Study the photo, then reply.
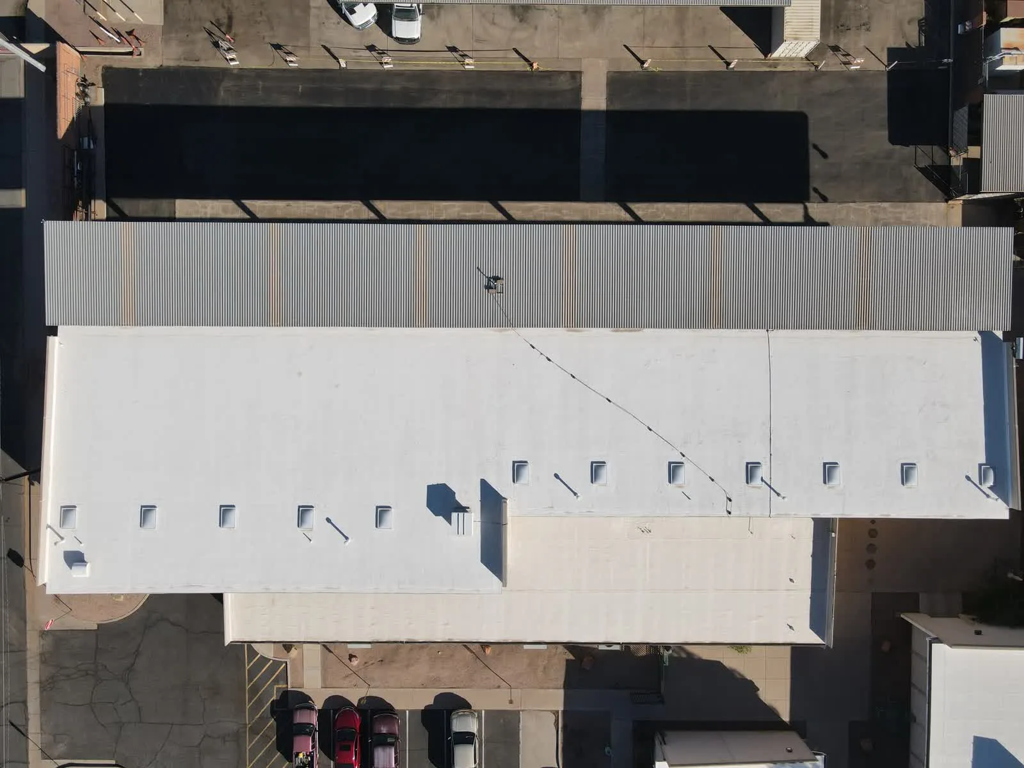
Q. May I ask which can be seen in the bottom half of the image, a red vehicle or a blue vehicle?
red vehicle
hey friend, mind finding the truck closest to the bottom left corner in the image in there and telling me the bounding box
[287,701,320,768]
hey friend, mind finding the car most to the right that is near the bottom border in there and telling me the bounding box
[447,705,481,768]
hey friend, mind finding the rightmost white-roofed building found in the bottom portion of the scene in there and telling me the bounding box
[901,610,1024,768]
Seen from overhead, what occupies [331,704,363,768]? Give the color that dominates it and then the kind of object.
red car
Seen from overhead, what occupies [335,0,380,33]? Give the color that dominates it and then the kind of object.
white truck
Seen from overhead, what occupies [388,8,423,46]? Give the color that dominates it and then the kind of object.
white truck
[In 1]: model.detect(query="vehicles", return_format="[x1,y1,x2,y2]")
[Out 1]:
[370,709,403,768]
[331,704,363,768]
[447,705,481,768]
[287,701,320,768]
[335,0,380,33]
[388,8,423,46]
